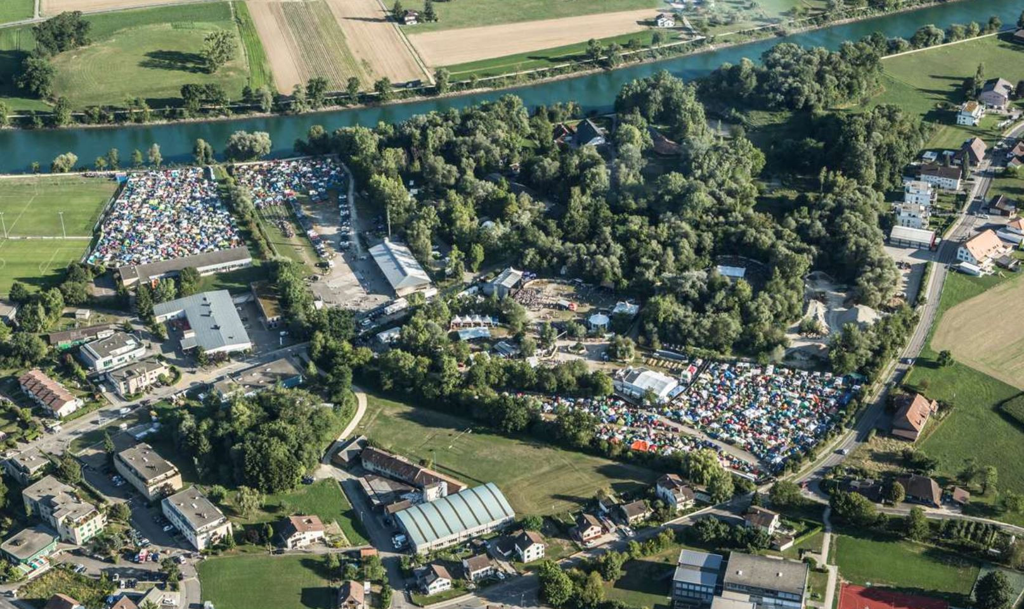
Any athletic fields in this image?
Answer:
Yes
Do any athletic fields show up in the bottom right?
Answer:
Yes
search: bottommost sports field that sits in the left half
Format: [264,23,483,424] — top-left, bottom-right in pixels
[0,238,92,299]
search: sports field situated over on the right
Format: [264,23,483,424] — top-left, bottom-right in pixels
[836,533,981,598]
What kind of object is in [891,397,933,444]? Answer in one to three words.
barn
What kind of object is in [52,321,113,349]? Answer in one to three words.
shed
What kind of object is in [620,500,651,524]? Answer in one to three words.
house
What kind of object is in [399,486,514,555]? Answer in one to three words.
building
